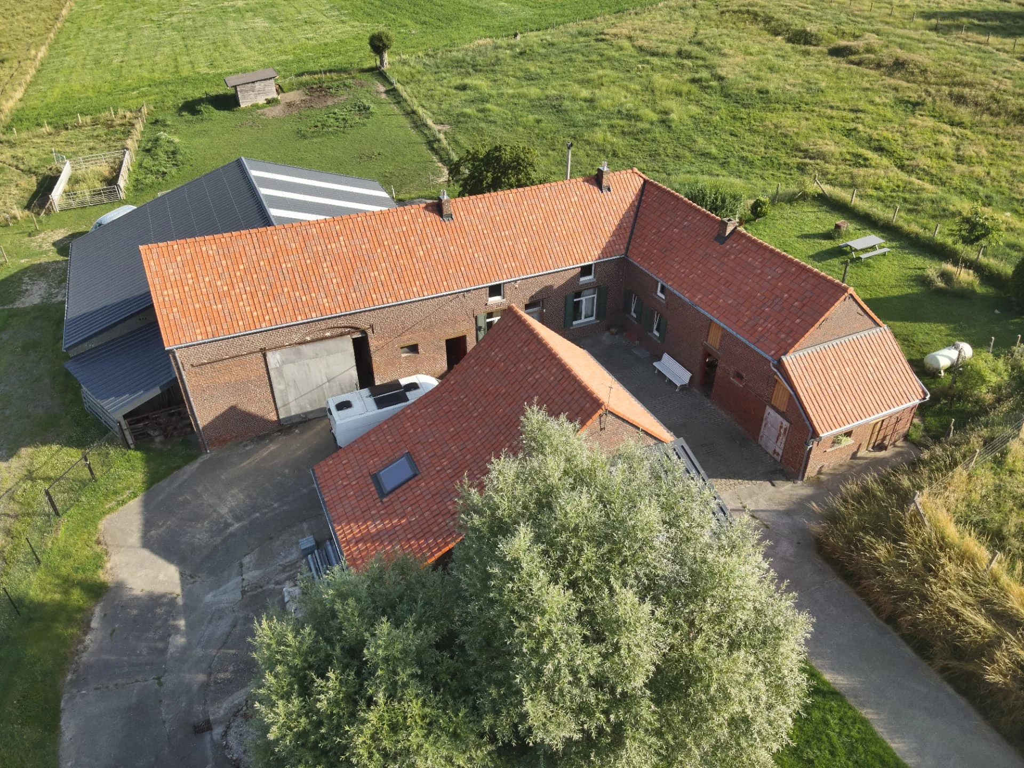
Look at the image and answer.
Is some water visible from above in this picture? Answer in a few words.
No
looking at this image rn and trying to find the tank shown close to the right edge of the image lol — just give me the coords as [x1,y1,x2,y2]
[920,337,974,379]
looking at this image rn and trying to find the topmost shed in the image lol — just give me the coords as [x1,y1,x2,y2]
[215,69,282,105]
